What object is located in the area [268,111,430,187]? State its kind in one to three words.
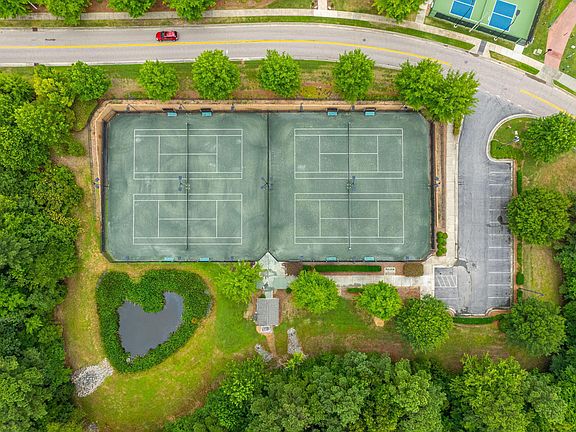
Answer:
tennis court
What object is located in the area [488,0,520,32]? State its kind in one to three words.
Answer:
sports court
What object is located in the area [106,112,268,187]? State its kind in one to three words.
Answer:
tennis court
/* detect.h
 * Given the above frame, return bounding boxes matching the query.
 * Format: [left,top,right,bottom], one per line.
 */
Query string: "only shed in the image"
[257,298,280,326]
